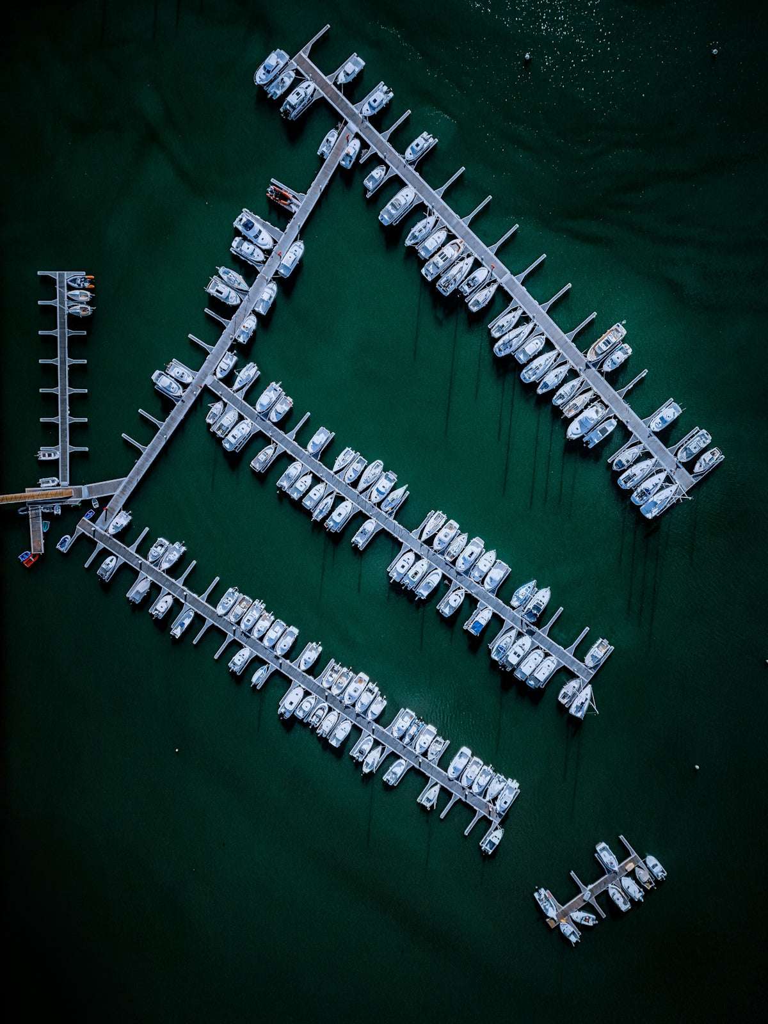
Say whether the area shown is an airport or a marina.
marina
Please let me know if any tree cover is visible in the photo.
No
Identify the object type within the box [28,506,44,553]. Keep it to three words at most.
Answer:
pier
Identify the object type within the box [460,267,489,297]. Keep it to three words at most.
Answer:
boat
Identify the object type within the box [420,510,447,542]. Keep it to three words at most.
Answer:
boat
